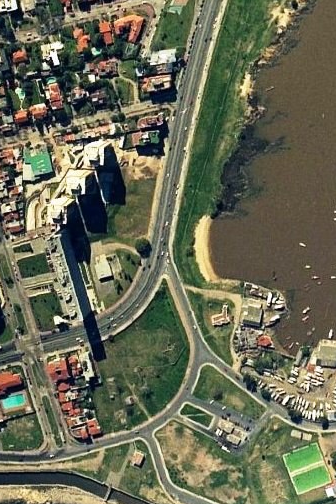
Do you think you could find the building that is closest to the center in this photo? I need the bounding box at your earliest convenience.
[95,253,113,278]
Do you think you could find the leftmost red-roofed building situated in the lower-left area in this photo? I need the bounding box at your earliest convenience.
[0,368,23,395]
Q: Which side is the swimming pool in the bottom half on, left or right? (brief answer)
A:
left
